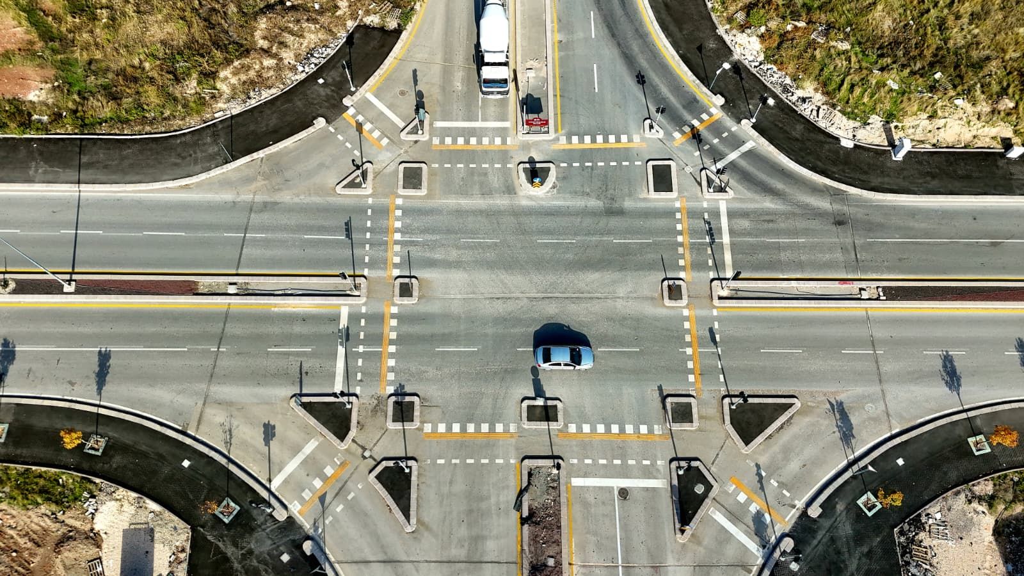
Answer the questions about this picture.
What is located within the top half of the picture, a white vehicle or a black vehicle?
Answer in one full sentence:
What appears within the top half of the picture is a white vehicle.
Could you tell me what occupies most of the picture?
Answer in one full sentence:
What you mostly see from above here is paved ground.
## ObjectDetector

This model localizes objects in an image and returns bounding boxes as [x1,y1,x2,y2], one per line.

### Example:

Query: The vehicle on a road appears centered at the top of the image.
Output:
[477,0,512,98]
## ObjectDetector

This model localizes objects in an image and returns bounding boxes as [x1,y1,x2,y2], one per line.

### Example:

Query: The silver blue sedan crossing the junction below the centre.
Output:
[534,344,594,372]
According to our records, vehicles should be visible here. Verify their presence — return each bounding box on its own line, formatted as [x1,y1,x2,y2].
[477,0,512,98]
[534,344,594,372]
